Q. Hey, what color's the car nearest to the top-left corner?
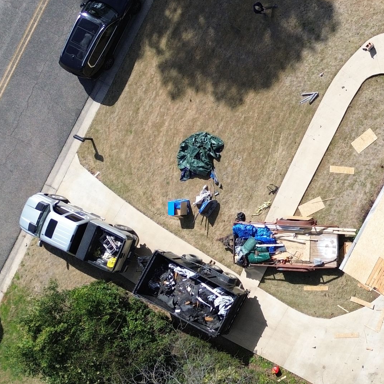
black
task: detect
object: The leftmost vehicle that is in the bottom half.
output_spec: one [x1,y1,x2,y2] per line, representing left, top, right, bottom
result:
[15,193,139,274]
